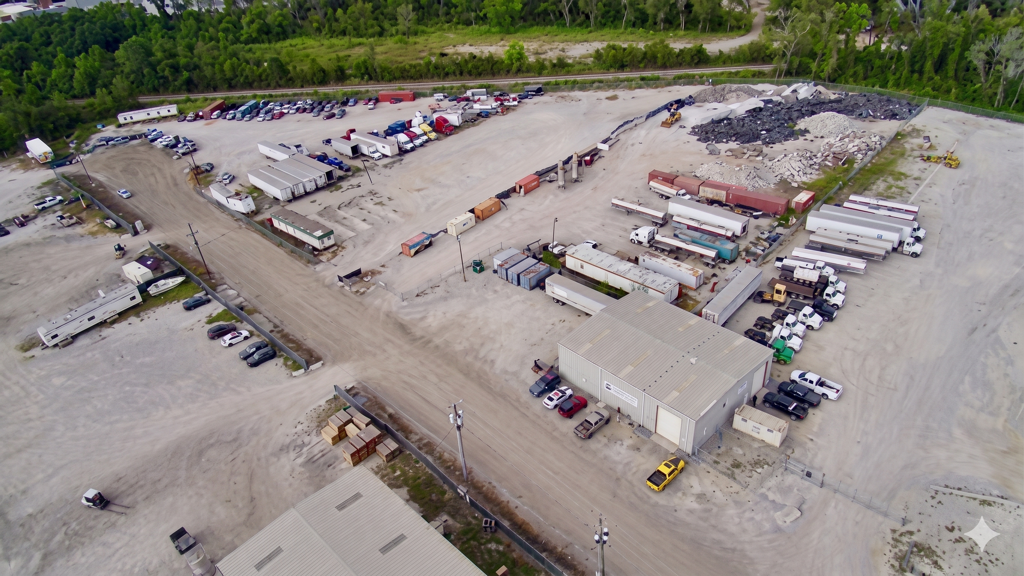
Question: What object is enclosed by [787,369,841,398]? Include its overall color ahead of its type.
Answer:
white truck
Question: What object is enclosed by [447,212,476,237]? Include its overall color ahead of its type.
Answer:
white shipping container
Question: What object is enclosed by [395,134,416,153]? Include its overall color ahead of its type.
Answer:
white vehicle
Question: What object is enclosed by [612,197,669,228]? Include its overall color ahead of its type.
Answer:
white trailer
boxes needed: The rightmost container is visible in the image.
[788,190,815,215]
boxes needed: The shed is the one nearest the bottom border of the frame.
[215,465,492,576]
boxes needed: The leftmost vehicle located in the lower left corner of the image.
[76,483,123,514]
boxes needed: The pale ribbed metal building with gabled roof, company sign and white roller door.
[555,290,776,455]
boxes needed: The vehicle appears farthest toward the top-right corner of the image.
[926,152,966,168]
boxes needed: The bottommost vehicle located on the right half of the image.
[644,453,687,490]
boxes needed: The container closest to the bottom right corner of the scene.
[731,402,788,447]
